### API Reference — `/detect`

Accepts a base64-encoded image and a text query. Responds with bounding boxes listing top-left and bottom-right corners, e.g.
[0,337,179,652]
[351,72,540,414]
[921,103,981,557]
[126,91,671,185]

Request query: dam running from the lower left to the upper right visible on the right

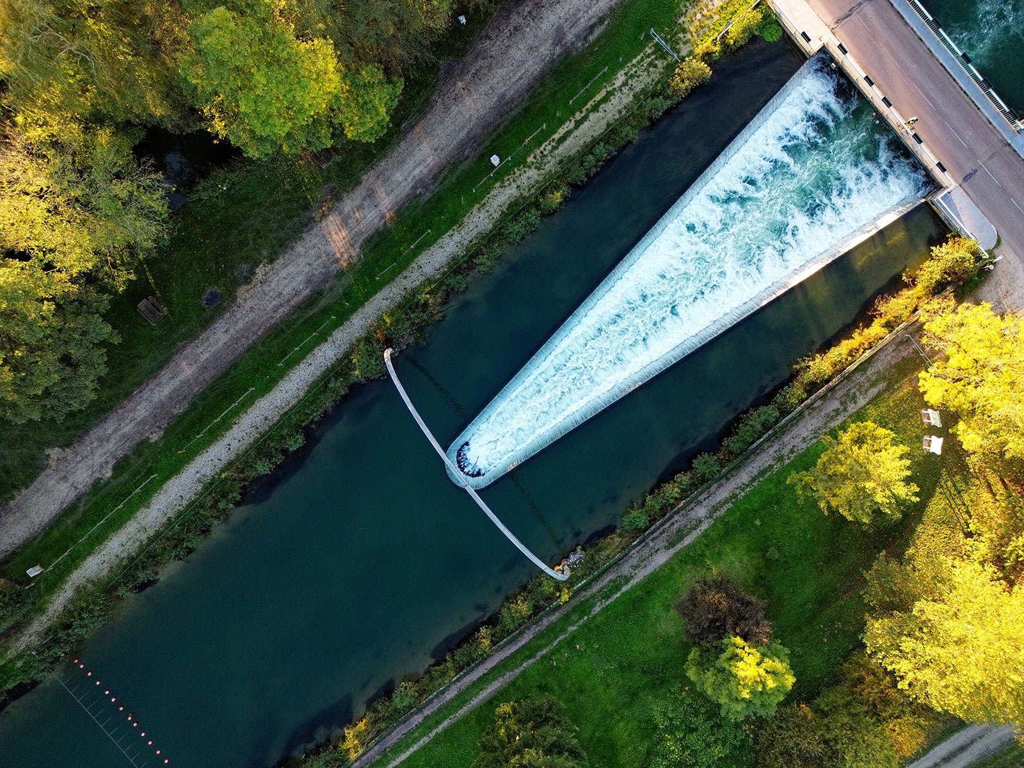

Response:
[445,58,926,489]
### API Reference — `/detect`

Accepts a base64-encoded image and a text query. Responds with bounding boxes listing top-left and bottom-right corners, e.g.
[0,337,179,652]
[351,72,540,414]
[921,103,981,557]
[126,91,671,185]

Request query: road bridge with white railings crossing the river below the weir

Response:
[764,0,1024,259]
